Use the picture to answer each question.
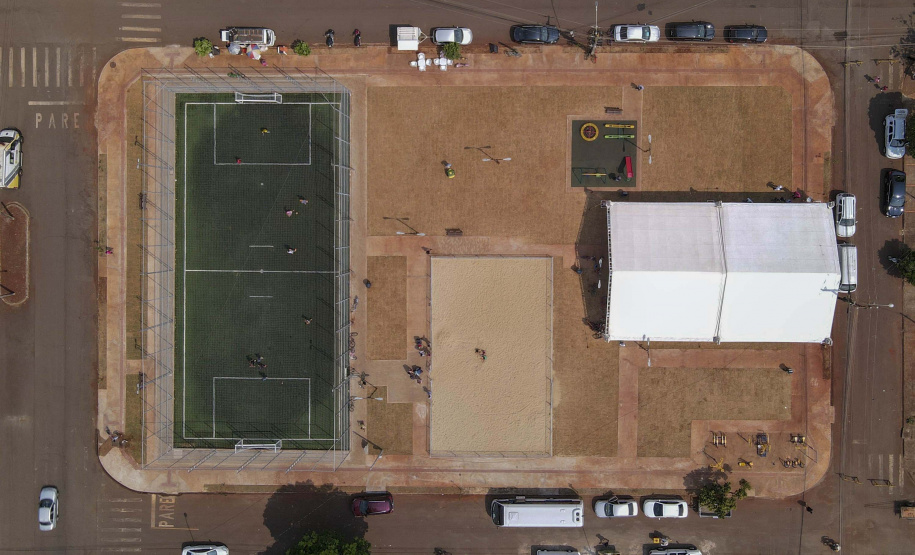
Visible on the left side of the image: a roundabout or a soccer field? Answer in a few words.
soccer field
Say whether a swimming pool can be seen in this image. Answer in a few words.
No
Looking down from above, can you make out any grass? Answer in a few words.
Yes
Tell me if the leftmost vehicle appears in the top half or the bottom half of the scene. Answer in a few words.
top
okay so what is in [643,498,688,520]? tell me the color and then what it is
white car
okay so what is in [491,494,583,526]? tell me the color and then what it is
white bus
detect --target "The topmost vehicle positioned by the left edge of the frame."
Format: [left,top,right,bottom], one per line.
[0,130,24,187]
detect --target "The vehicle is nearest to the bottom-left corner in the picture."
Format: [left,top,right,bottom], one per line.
[37,484,62,531]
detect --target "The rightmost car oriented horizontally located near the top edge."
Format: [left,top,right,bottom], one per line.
[724,23,768,44]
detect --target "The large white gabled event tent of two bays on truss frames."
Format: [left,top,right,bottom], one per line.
[589,196,844,346]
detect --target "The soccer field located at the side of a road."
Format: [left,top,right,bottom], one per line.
[147,74,354,466]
